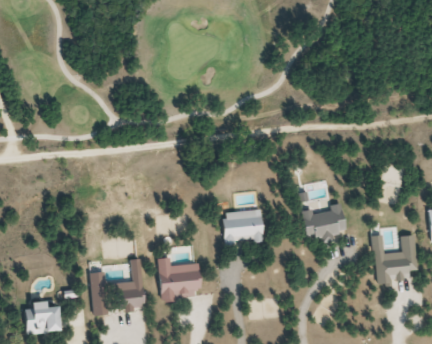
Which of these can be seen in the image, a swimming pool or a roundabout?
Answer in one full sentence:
It is a swimming pool that can be seen here.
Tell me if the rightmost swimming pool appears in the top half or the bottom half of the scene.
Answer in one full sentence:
It is in the bottom half that the rightmost swimming pool appears.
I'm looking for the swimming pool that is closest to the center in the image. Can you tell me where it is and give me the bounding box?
[234,191,258,208]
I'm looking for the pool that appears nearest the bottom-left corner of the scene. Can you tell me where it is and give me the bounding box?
[32,276,55,298]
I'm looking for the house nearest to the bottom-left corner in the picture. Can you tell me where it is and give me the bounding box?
[25,302,62,335]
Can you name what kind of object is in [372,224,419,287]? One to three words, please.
house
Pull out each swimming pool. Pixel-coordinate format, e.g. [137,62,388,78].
[32,276,55,298]
[304,180,330,210]
[170,246,194,264]
[234,191,258,208]
[380,226,400,251]
[102,264,130,283]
